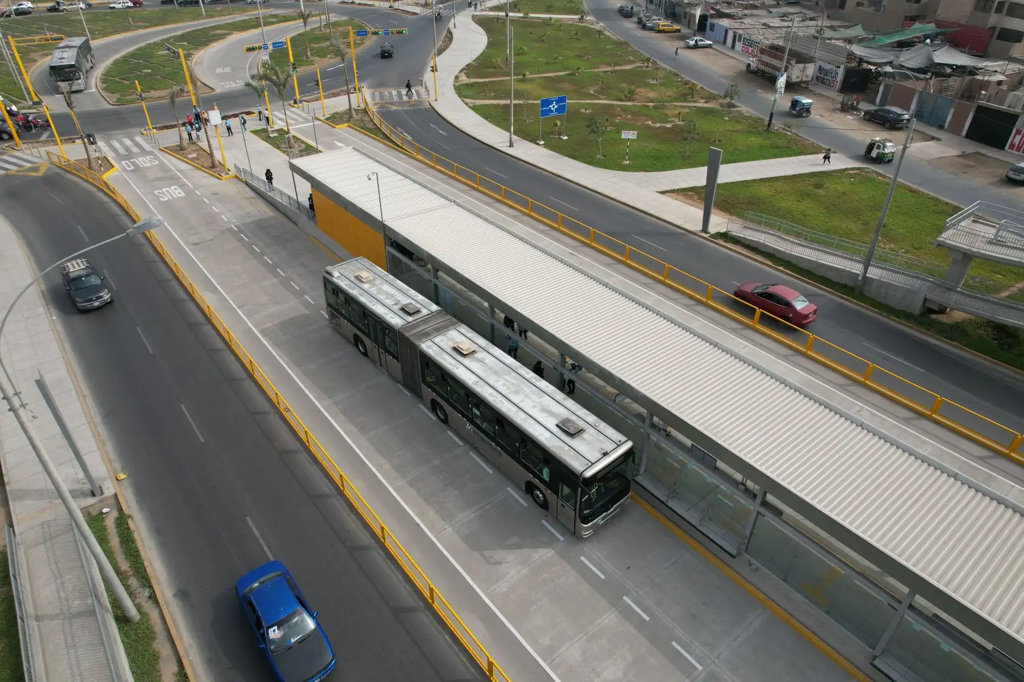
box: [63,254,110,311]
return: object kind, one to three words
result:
car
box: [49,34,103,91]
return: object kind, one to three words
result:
bus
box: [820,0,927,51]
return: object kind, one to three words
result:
building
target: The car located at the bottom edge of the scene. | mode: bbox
[240,557,338,682]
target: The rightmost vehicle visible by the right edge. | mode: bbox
[995,156,1024,188]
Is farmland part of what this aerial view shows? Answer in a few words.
No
